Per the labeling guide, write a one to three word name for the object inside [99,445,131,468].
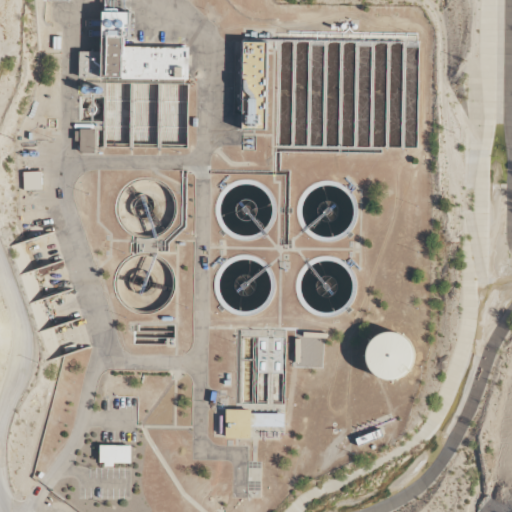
building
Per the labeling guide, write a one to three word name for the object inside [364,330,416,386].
storage tank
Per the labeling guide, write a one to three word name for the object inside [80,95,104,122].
water tank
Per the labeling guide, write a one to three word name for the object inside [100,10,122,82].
building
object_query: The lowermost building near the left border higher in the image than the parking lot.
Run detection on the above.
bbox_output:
[23,168,42,190]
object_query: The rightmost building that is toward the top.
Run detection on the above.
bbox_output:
[242,41,267,130]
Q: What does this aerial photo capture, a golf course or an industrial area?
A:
industrial area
